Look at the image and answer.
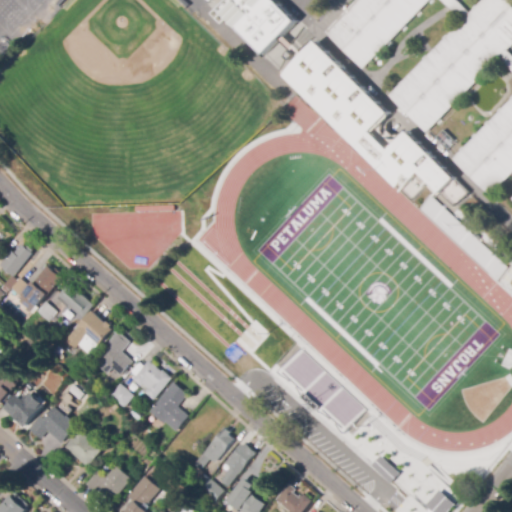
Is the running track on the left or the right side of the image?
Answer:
right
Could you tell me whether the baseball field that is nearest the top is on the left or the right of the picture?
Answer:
left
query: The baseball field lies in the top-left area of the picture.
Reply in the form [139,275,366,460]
[0,0,270,206]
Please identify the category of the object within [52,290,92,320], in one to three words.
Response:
house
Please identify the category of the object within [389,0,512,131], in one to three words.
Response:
building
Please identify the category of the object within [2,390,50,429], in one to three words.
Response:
house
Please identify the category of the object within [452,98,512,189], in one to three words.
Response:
building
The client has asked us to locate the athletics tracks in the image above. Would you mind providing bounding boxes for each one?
[198,95,512,450]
